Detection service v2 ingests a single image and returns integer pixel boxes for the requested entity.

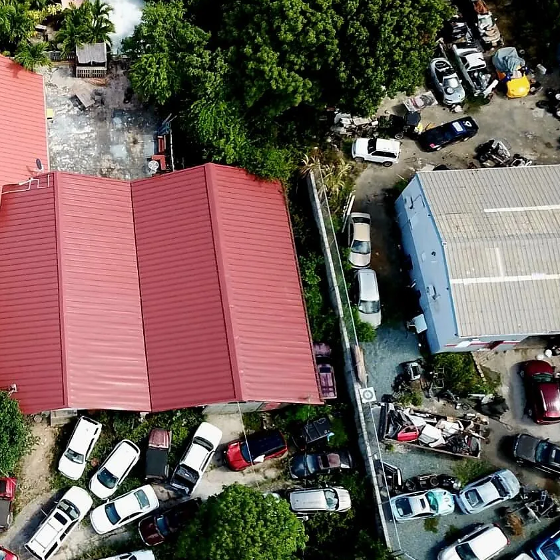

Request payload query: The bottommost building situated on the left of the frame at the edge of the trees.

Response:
[0,162,324,413]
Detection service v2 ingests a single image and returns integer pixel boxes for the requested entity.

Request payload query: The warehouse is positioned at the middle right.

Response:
[394,163,560,356]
